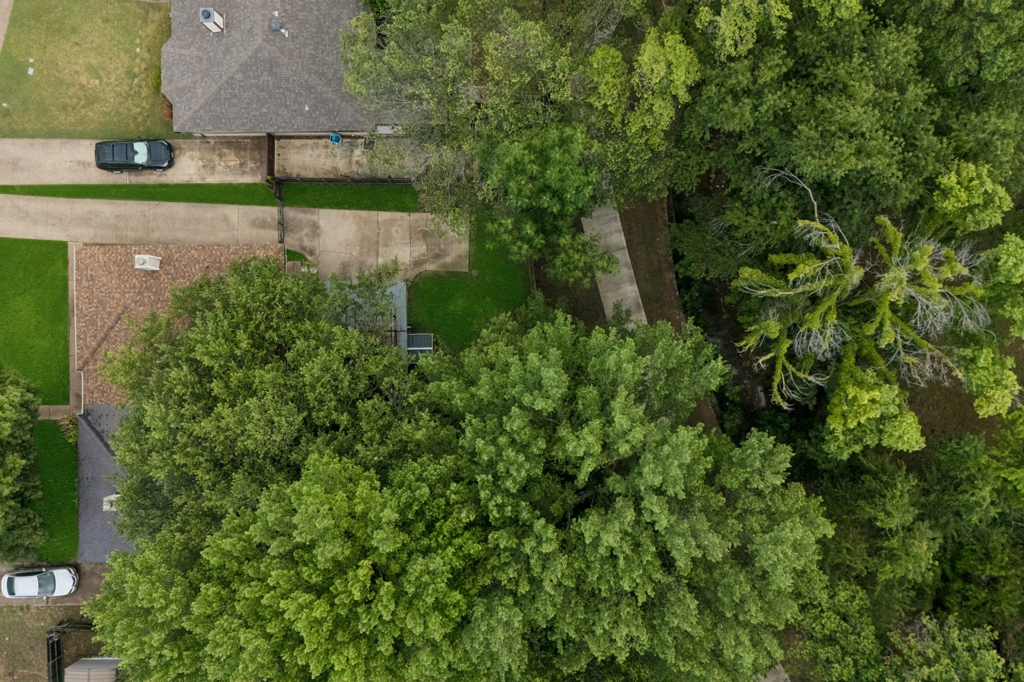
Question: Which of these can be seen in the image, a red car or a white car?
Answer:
white car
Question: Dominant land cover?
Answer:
trees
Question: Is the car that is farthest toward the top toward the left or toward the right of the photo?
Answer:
left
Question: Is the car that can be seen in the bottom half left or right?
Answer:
left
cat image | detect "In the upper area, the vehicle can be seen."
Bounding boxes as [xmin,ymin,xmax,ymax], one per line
[90,134,175,172]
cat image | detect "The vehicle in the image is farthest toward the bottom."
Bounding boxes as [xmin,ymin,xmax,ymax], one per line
[0,565,80,603]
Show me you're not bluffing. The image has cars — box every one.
[0,565,80,603]
[90,134,175,172]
